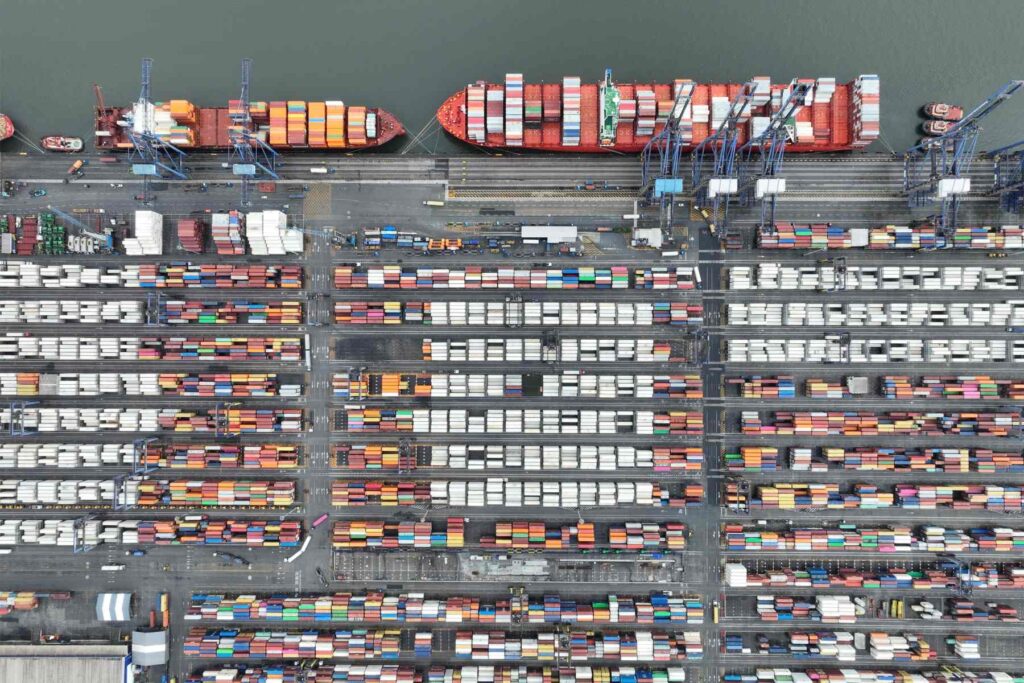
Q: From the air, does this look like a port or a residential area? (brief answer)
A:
port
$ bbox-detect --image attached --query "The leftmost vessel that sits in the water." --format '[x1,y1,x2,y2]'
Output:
[0,115,22,143]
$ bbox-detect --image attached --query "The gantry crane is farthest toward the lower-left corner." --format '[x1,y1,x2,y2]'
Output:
[72,512,103,552]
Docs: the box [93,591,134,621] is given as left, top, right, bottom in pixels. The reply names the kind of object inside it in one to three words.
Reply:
tent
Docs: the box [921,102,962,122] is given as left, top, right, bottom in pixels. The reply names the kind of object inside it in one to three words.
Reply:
boat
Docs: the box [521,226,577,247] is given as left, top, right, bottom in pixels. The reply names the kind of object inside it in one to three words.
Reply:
shed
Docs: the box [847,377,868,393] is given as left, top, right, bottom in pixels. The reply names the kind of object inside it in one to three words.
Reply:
building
